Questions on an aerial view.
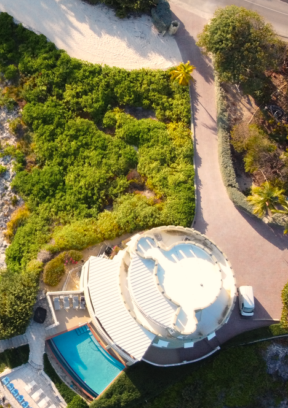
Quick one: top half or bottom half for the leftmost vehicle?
bottom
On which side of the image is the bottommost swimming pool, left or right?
left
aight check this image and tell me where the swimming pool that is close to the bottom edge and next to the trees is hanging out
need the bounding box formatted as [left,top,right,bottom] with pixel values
[44,321,129,407]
